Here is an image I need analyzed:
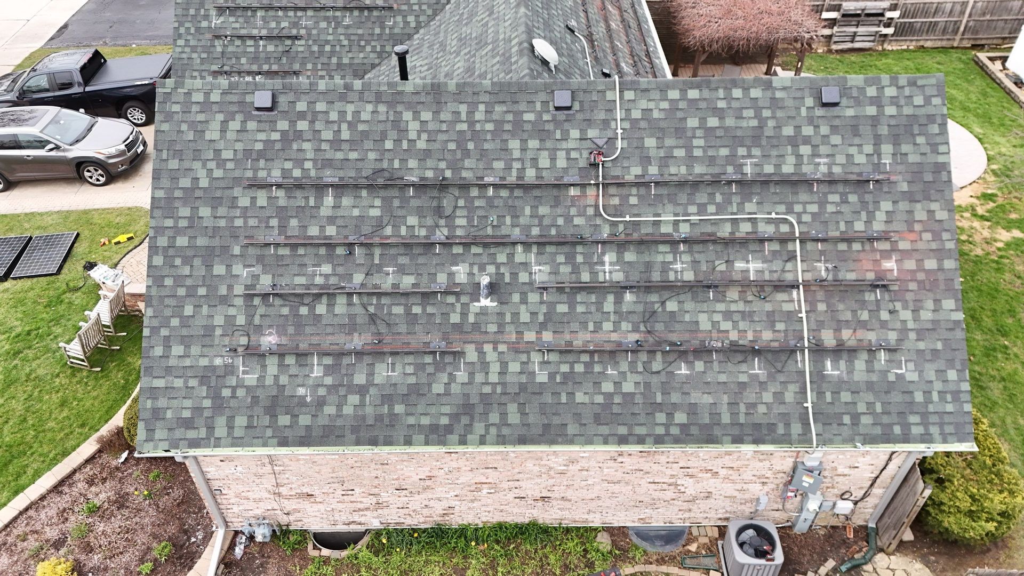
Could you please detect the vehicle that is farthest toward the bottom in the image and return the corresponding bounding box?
[0,103,148,190]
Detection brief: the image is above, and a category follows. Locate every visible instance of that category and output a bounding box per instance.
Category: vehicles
[0,103,148,190]
[0,47,172,128]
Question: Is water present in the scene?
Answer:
No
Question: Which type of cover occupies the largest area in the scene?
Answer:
buildings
